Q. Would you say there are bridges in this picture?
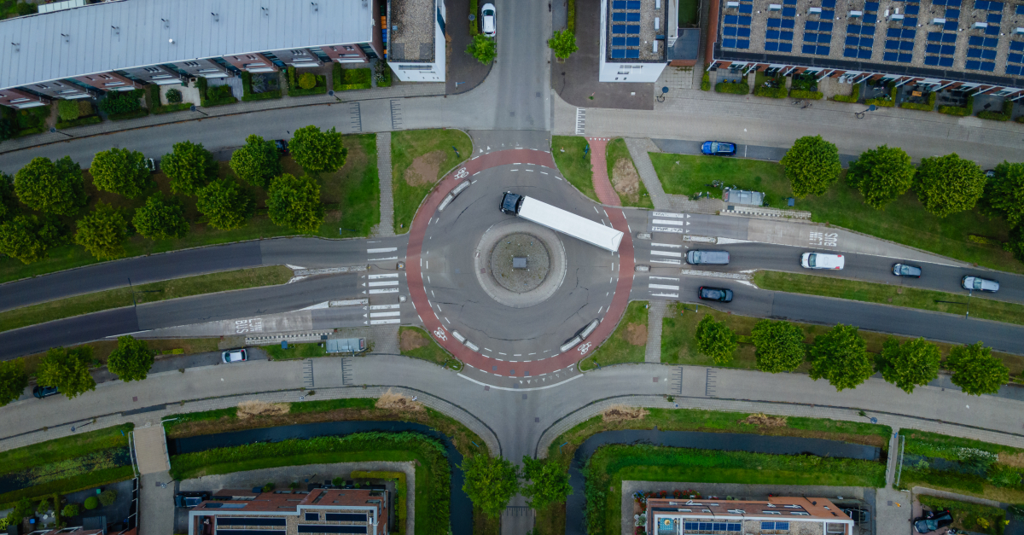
Yes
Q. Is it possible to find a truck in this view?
Yes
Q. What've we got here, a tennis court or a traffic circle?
traffic circle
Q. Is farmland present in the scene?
No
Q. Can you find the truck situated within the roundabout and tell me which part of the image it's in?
center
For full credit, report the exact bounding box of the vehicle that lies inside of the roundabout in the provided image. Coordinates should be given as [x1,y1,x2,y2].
[500,190,623,253]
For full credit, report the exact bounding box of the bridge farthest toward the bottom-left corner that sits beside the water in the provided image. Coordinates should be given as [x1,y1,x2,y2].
[127,420,175,477]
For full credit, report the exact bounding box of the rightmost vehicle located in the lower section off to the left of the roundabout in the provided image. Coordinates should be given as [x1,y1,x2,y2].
[223,348,249,363]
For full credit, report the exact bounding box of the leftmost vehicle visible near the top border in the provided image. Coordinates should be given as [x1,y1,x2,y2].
[480,4,497,38]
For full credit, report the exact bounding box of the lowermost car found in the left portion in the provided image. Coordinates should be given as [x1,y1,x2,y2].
[175,490,209,508]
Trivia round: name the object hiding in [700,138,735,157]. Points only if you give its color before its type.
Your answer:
blue car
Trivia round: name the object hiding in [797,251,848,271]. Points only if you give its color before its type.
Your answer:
white vehicle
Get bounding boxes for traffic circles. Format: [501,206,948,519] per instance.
[405,130,635,388]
